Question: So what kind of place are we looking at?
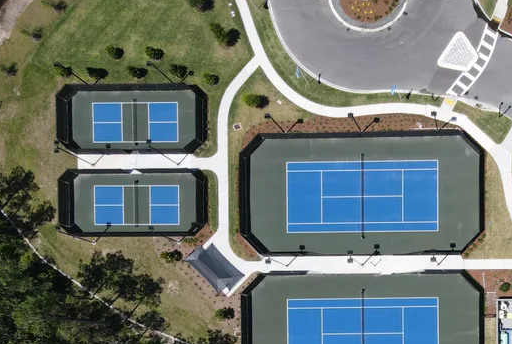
sports ground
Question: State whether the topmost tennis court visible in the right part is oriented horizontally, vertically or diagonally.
horizontally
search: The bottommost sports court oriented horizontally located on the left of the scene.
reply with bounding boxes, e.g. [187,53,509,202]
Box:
[68,174,194,234]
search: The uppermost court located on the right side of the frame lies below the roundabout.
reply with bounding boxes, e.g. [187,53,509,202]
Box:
[245,139,479,256]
